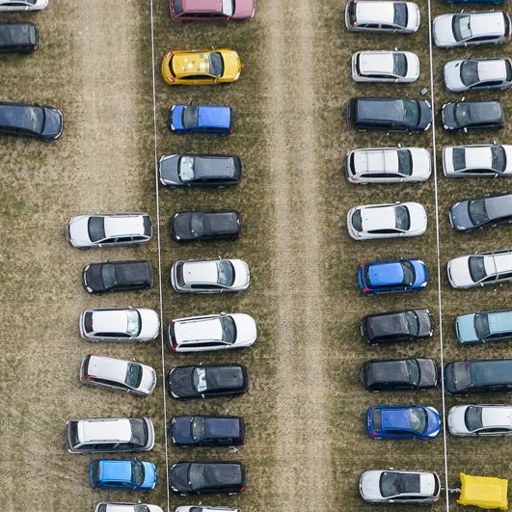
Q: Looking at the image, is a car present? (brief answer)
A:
Yes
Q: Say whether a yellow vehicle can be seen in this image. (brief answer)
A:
Yes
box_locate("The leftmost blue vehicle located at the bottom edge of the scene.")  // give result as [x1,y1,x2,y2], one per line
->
[88,455,157,491]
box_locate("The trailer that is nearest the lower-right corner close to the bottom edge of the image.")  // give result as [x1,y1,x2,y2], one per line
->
[443,475,509,512]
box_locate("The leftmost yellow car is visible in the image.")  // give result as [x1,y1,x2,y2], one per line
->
[162,48,241,85]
